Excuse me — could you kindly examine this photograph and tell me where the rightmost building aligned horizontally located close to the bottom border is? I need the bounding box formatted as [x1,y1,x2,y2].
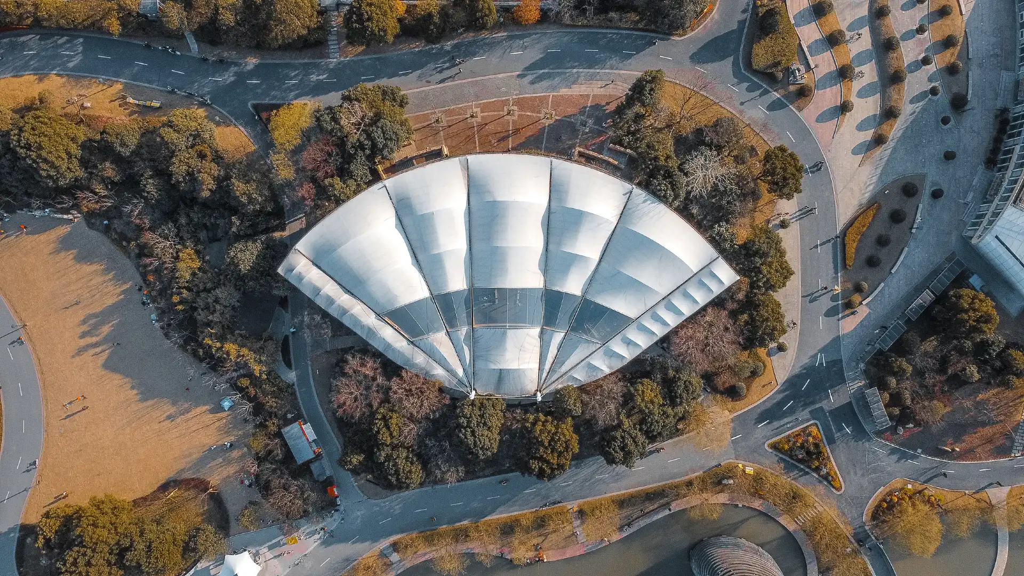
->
[693,534,786,576]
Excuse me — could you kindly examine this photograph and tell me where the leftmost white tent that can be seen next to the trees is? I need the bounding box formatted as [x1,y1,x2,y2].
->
[213,547,266,576]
